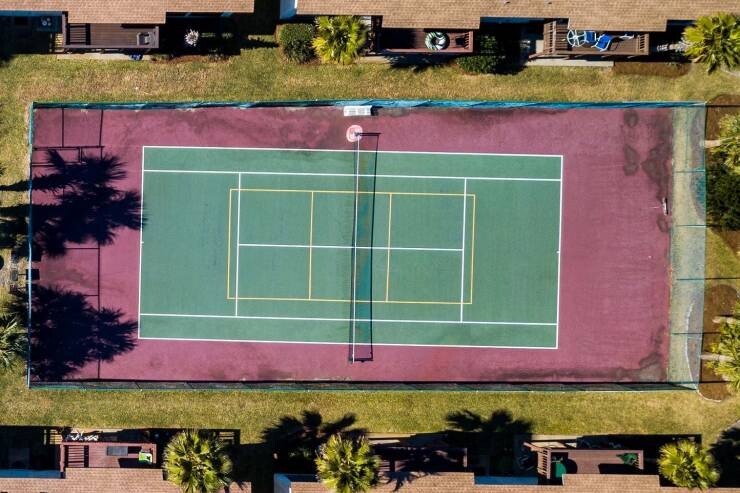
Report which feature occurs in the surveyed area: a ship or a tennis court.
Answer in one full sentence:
I can see a tennis court in this picture.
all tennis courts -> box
[30,107,670,383]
